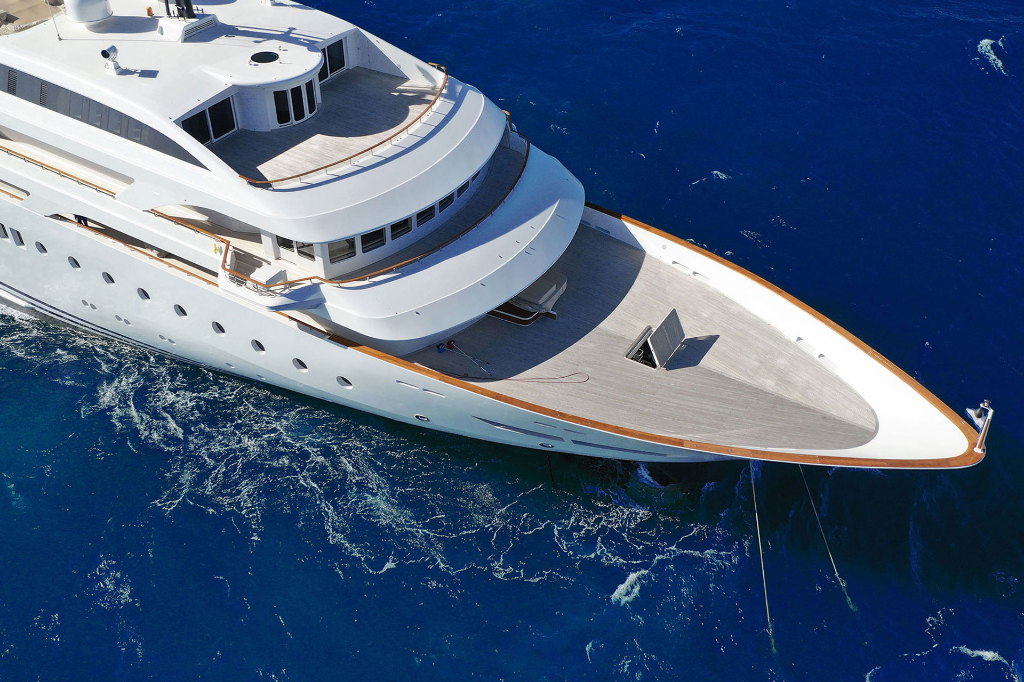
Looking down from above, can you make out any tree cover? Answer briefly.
No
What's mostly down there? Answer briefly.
water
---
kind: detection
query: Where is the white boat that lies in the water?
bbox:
[0,0,994,474]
